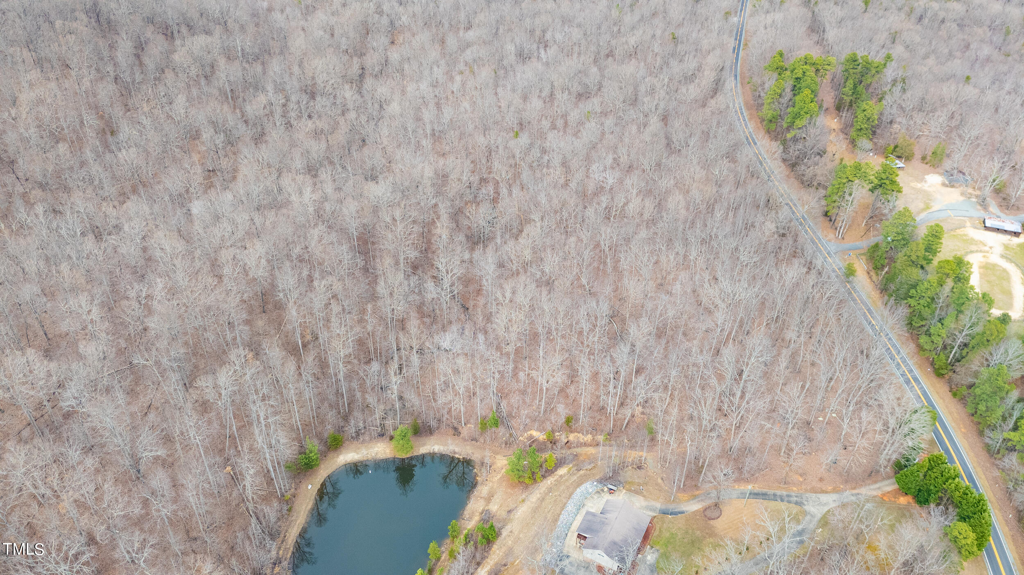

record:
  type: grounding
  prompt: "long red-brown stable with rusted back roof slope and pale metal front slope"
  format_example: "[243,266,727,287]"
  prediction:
[979,215,1021,237]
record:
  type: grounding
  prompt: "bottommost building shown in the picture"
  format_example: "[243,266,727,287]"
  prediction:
[576,499,648,575]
